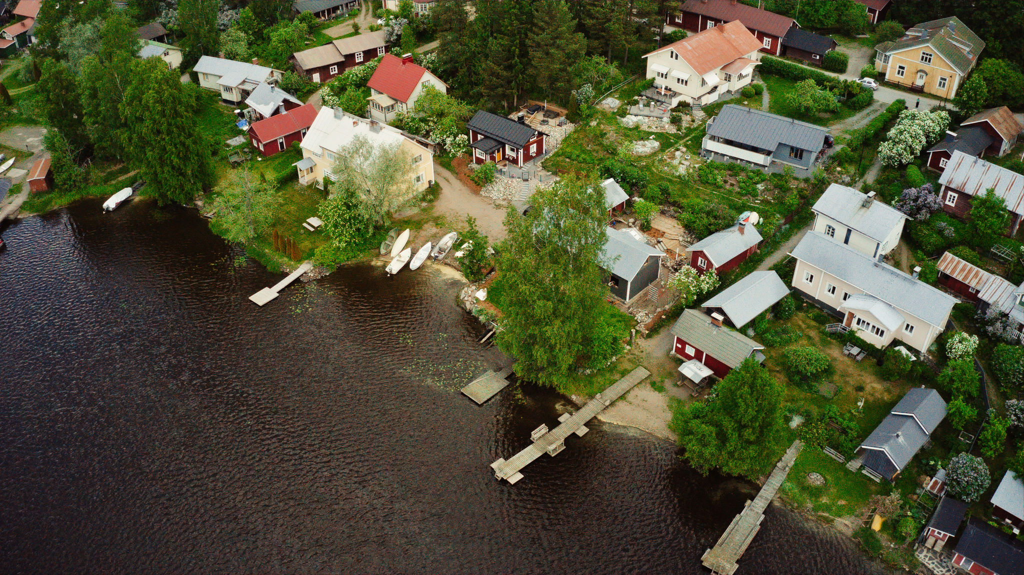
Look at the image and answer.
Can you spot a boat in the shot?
Yes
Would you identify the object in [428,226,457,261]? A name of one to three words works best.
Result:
boat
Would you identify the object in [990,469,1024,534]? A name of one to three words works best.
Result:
shed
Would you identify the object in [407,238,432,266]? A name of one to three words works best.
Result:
boat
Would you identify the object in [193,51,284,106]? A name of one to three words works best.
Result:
building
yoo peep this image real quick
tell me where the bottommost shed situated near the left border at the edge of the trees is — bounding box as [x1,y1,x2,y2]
[26,158,54,193]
